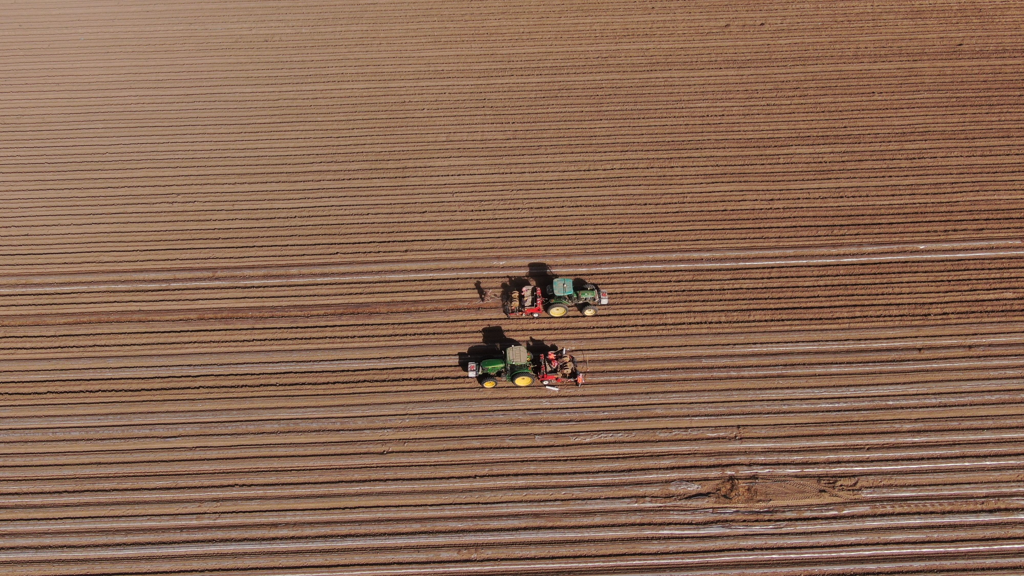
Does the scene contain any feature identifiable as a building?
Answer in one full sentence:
No, no building can be seen from above.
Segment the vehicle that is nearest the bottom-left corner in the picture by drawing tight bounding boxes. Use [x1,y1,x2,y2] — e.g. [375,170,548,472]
[468,344,538,388]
